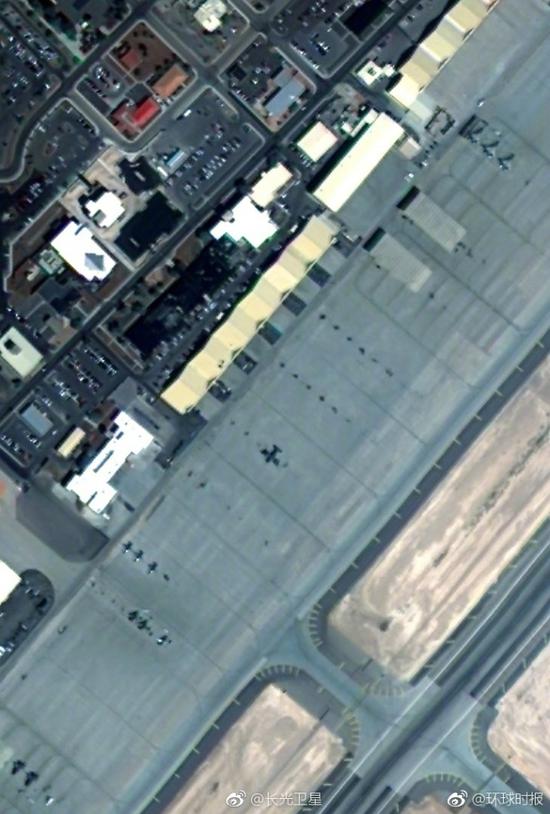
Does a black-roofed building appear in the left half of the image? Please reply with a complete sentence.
Yes, a black-roofed building is visible in the left half of the image.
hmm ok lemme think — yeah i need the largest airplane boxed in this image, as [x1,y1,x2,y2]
[262,447,280,464]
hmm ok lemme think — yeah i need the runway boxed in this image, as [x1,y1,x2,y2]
[295,513,550,814]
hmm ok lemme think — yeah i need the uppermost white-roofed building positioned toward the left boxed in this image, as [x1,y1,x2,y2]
[195,0,227,31]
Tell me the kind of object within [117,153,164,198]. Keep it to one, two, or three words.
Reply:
building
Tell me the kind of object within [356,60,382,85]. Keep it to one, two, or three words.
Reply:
building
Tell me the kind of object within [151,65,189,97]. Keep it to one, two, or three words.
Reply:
house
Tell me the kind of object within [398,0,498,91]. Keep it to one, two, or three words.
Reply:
hangar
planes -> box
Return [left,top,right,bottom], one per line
[123,541,134,552]
[149,561,158,572]
[134,550,145,561]
[14,759,24,773]
[28,770,37,782]
[140,618,150,630]
[129,610,140,622]
[262,447,280,464]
